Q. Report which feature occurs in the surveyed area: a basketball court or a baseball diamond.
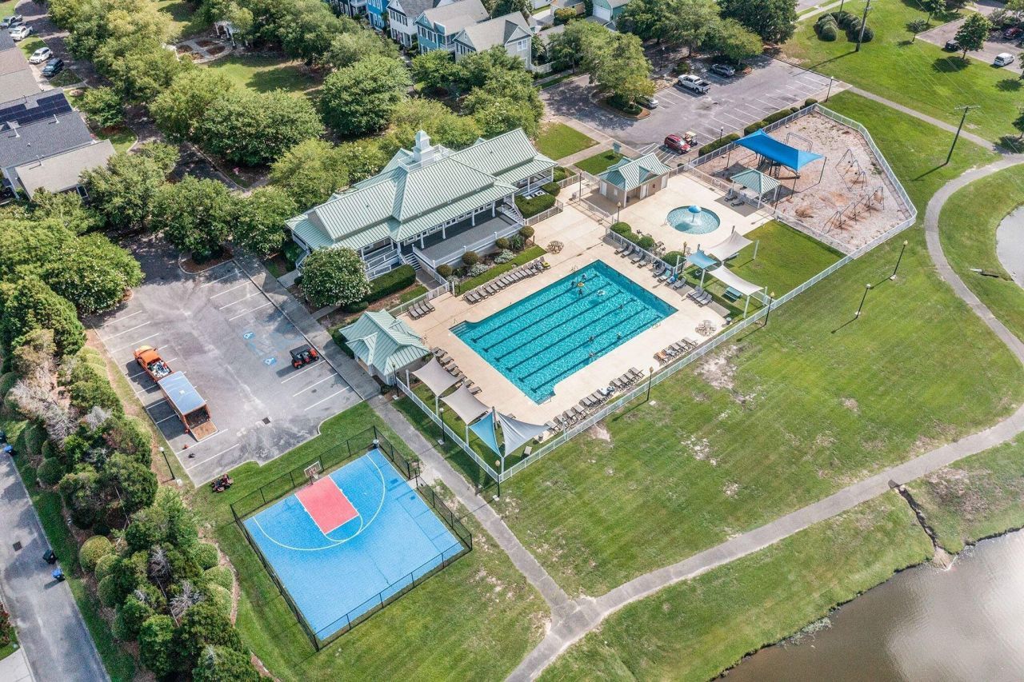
basketball court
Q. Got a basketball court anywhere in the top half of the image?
No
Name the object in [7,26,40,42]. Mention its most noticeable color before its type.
white vehicle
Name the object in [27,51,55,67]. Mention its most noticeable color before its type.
white car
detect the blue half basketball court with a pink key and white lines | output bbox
[240,445,463,641]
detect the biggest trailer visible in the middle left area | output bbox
[157,371,220,443]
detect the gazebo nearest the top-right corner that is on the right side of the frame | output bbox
[729,168,783,208]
